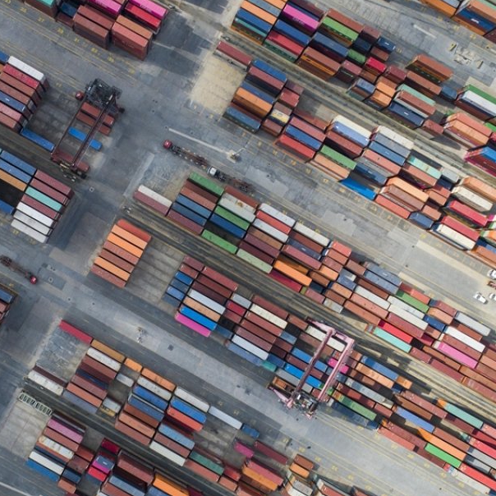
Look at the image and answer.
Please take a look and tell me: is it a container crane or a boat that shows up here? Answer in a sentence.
The one in the frame is a container crane.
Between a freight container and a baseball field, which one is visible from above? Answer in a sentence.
Looking from above, you can make out a freight container.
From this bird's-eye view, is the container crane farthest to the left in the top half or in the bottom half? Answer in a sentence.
It is in the top half that the container crane farthest to the left appears.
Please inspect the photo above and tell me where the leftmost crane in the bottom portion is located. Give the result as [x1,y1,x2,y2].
[262,314,360,421]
